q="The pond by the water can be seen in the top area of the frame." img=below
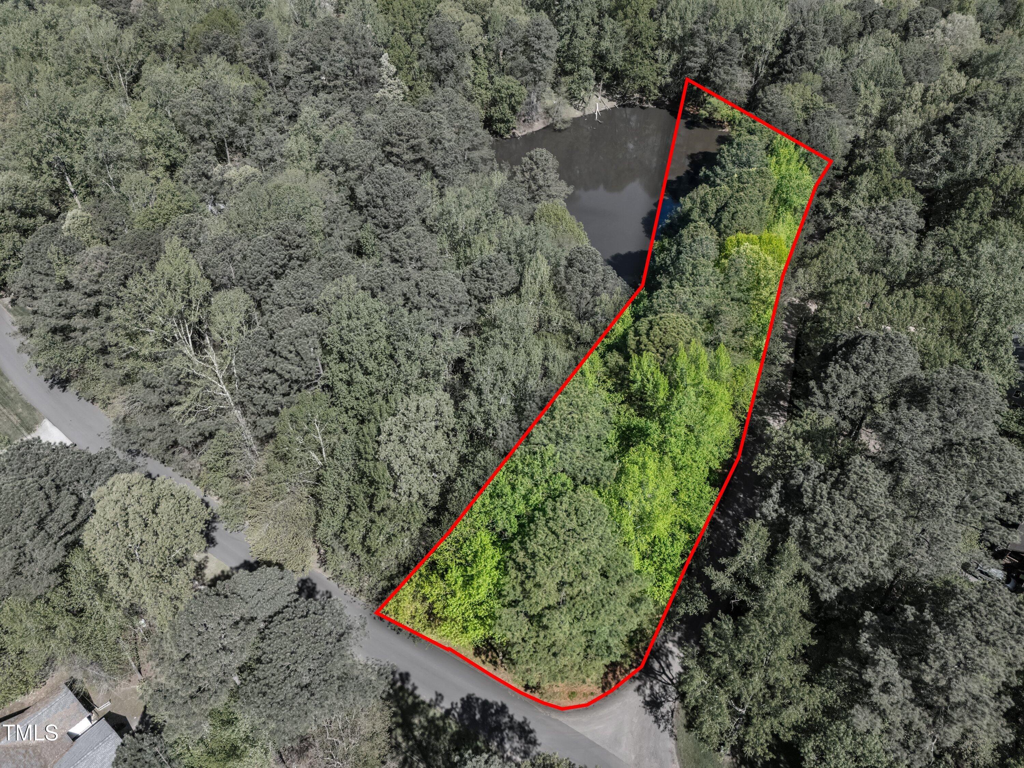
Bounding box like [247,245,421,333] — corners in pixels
[490,107,731,307]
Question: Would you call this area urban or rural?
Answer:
rural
